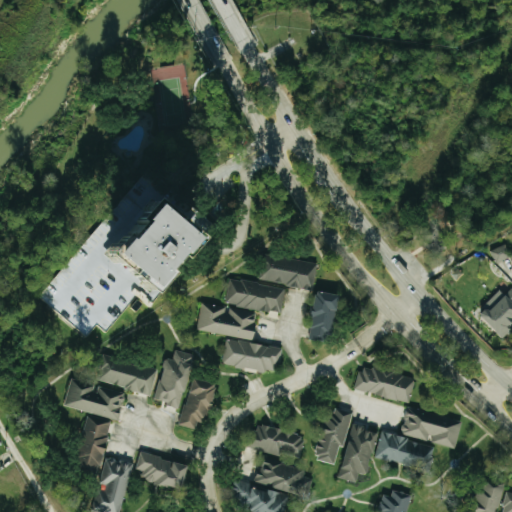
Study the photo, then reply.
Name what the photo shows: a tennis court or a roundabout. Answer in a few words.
tennis court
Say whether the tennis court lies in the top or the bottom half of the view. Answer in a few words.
top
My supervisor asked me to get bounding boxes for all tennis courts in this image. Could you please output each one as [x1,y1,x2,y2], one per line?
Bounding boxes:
[150,65,190,135]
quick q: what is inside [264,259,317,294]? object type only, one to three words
house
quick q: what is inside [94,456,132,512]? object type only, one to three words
house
